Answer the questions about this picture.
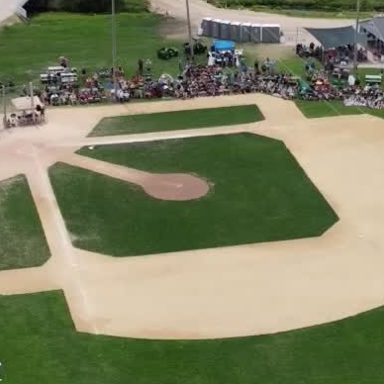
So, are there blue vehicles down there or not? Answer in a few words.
No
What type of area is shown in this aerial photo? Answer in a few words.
sports ground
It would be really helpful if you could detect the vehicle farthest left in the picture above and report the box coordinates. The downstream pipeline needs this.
[157,41,179,59]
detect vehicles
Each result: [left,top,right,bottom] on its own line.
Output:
[186,35,208,54]
[157,41,179,59]
[182,39,195,57]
